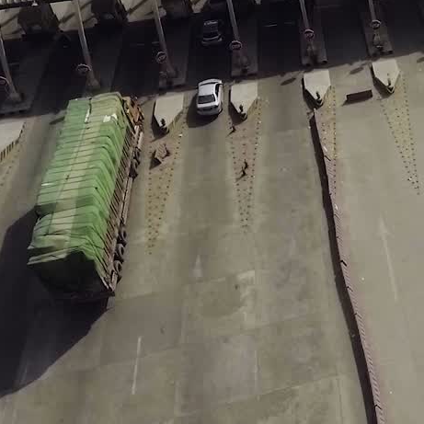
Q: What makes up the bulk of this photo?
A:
paved ground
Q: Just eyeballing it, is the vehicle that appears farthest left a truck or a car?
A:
truck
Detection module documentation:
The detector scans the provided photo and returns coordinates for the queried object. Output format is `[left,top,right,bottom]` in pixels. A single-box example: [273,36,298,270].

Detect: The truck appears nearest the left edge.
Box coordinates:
[14,90,142,306]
